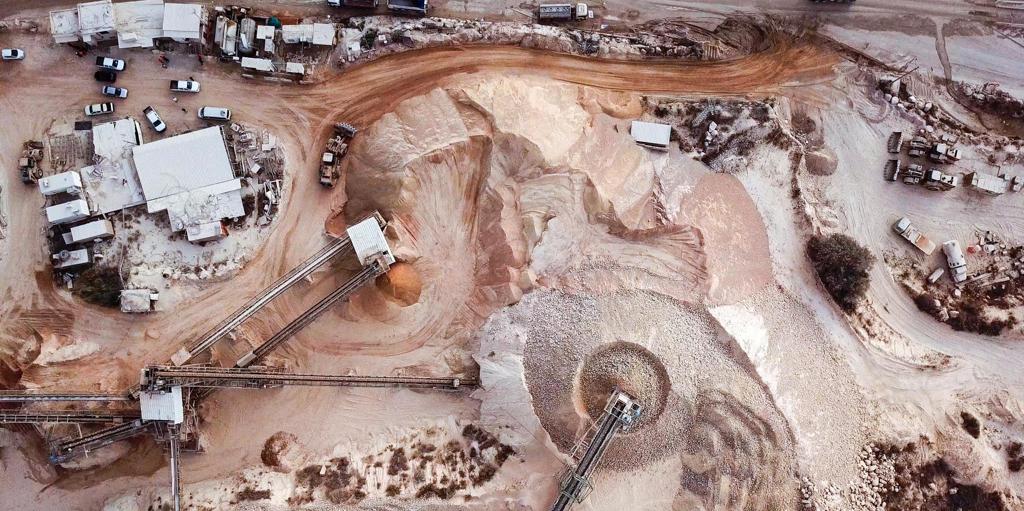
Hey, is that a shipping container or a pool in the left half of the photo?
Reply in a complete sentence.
What appears in the left half of the photo is a shipping container.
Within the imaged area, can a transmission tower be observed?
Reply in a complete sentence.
Yes, the image includes a transmission tower.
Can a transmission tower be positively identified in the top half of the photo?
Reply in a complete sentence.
Yes, in the top half of the photo there is a transmission tower.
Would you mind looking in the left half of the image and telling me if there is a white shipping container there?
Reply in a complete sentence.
Yes, in the left half of the image there is a white shipping container.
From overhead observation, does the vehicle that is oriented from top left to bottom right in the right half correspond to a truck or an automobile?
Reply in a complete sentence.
In the photo, the vehicle that is oriented from top left to bottom right in the right half shows up as a truck.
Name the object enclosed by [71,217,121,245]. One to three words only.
shipping container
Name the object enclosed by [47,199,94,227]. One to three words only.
shipping container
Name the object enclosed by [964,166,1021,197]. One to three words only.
trailer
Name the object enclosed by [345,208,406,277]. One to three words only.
house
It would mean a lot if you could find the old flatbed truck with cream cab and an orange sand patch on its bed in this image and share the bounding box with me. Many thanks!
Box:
[894,212,949,261]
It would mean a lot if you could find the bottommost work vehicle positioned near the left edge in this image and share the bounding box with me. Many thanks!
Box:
[9,138,37,189]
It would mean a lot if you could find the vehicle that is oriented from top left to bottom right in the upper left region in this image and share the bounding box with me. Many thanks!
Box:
[139,103,166,134]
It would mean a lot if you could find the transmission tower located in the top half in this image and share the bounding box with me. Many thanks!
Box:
[687,86,721,130]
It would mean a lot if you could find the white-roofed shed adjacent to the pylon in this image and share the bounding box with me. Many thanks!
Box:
[629,121,671,148]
